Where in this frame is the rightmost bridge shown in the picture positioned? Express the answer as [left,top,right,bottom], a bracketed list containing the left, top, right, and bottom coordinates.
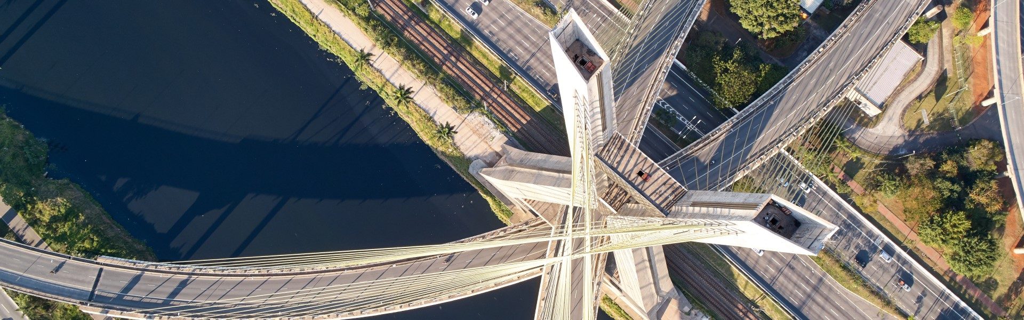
[978,0,1024,255]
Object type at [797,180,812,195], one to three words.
vehicle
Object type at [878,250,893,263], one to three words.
vehicle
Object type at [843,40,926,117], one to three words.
shed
